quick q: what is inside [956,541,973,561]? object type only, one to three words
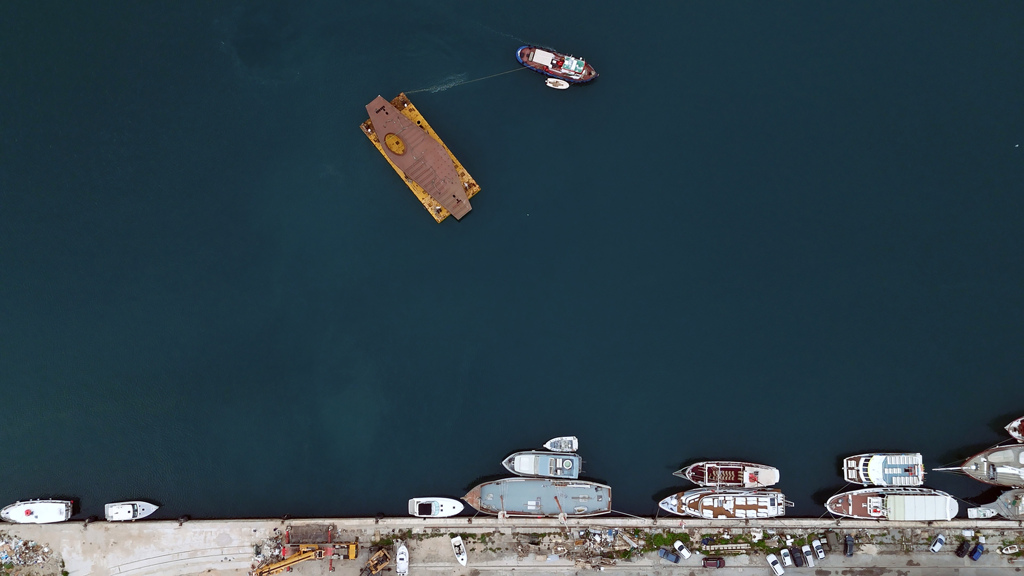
car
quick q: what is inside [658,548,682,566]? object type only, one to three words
car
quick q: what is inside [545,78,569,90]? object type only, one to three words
boat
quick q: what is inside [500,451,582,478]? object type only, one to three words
boat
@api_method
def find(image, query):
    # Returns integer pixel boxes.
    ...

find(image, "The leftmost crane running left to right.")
[248,526,359,576]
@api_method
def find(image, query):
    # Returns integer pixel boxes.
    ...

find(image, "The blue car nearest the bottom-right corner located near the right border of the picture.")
[970,544,986,564]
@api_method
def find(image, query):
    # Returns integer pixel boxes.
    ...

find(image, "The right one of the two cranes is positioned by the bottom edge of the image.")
[357,545,393,576]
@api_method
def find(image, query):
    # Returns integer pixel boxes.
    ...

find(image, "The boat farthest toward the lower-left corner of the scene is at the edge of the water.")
[0,500,75,525]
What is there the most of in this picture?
water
